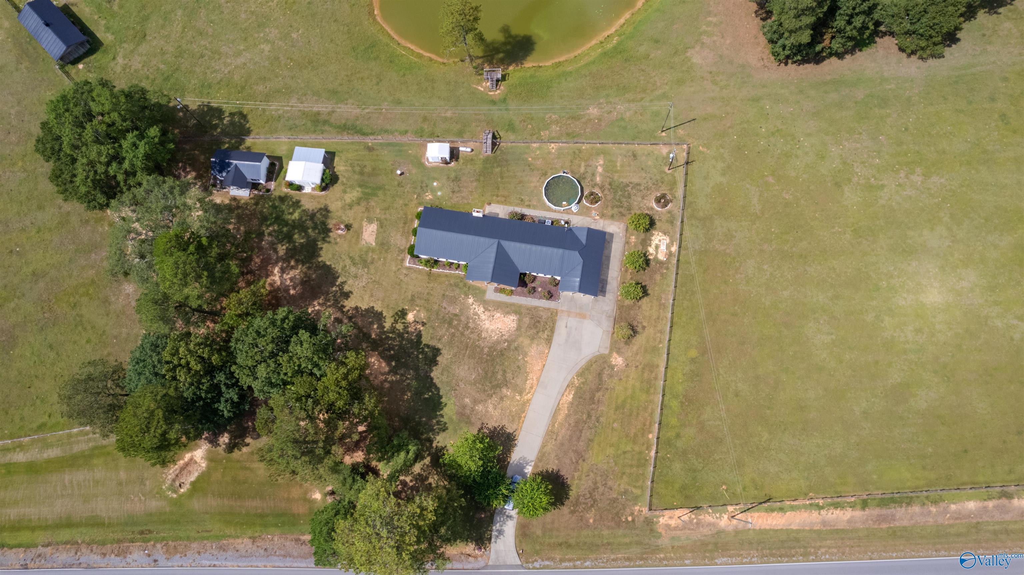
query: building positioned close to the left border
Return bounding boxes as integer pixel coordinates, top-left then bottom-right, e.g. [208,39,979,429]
[17,0,92,66]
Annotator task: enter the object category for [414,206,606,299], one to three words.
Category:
house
